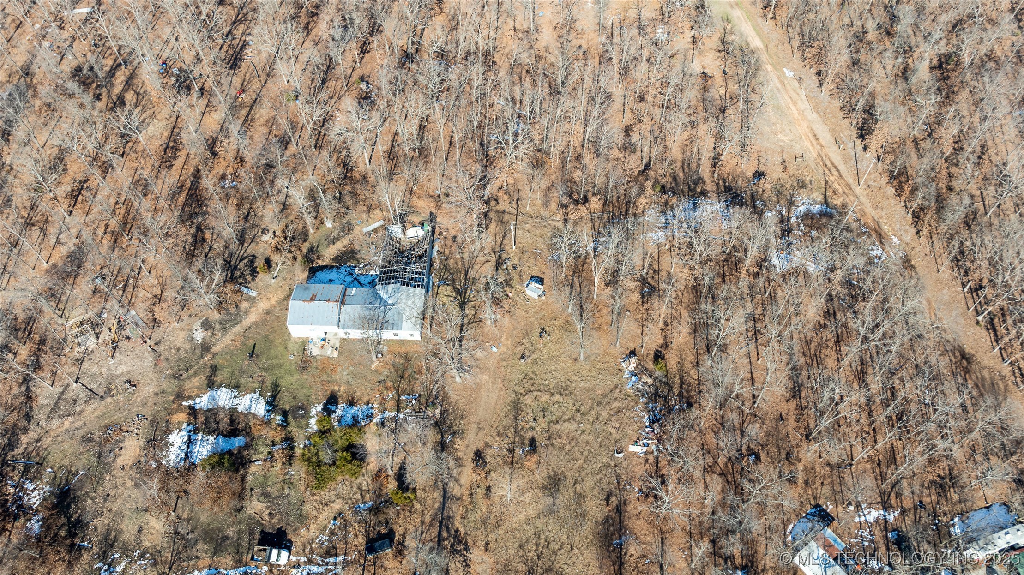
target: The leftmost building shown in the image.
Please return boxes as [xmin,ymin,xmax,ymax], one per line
[285,224,435,340]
